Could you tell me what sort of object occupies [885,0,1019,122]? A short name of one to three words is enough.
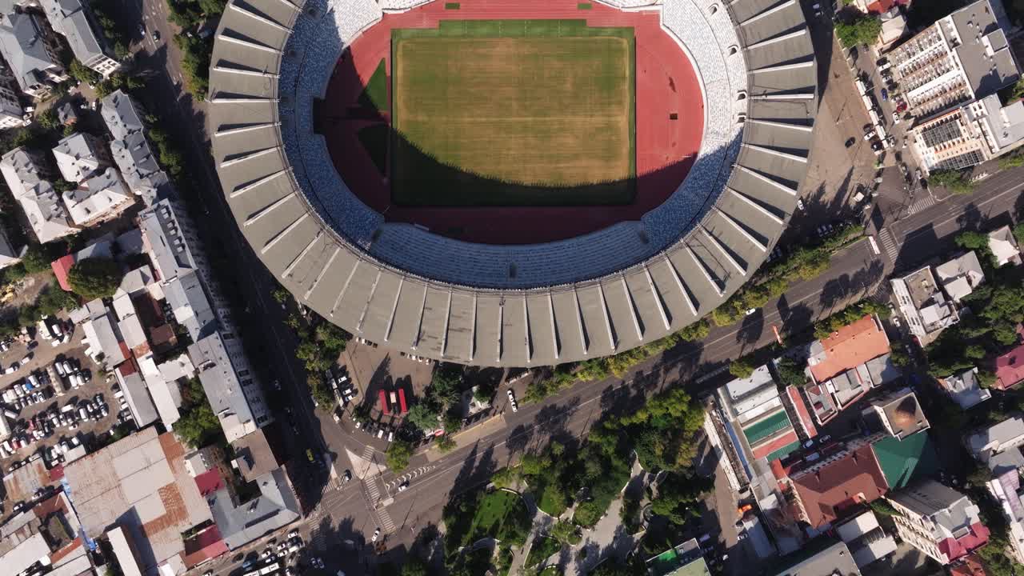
building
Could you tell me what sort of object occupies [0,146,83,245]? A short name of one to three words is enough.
house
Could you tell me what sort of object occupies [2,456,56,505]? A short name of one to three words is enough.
shed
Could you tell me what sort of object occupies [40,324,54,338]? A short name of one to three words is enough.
vehicle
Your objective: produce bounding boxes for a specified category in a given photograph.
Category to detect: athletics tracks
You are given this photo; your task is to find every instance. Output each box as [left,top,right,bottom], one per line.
[313,0,704,245]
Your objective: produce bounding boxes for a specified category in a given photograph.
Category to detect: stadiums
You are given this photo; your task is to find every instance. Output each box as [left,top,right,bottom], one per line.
[210,0,816,368]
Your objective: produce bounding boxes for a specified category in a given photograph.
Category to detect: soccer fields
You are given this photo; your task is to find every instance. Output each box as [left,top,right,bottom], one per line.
[391,20,636,207]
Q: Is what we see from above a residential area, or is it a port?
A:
residential area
